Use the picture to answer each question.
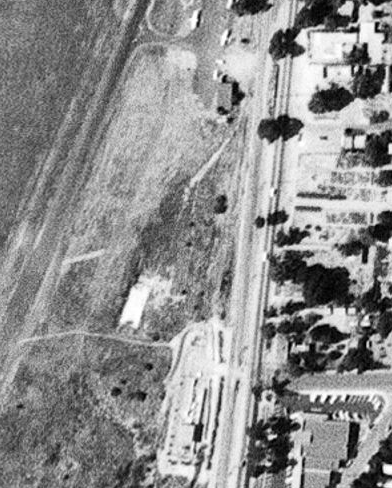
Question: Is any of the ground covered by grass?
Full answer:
Yes, there is grass in the image.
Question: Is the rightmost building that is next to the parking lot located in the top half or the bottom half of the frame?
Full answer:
The rightmost building that is next to the parking lot sits in the bottom half of the picture.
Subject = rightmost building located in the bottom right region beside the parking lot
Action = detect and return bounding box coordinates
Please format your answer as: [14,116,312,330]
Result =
[305,416,351,488]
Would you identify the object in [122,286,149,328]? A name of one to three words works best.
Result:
shed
